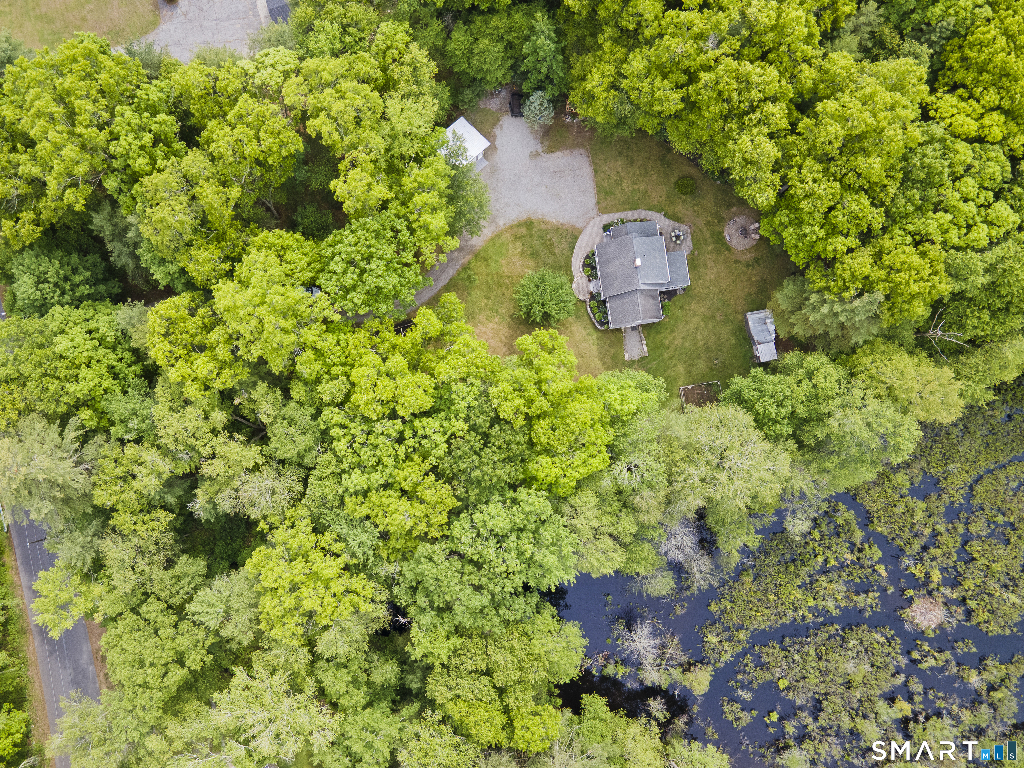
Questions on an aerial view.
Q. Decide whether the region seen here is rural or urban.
rural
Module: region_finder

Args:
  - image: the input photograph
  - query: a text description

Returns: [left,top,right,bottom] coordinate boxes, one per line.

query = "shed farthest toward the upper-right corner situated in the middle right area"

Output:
[744,309,781,362]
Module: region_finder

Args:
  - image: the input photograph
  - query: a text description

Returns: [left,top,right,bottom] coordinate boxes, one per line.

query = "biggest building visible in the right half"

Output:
[594,221,690,329]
